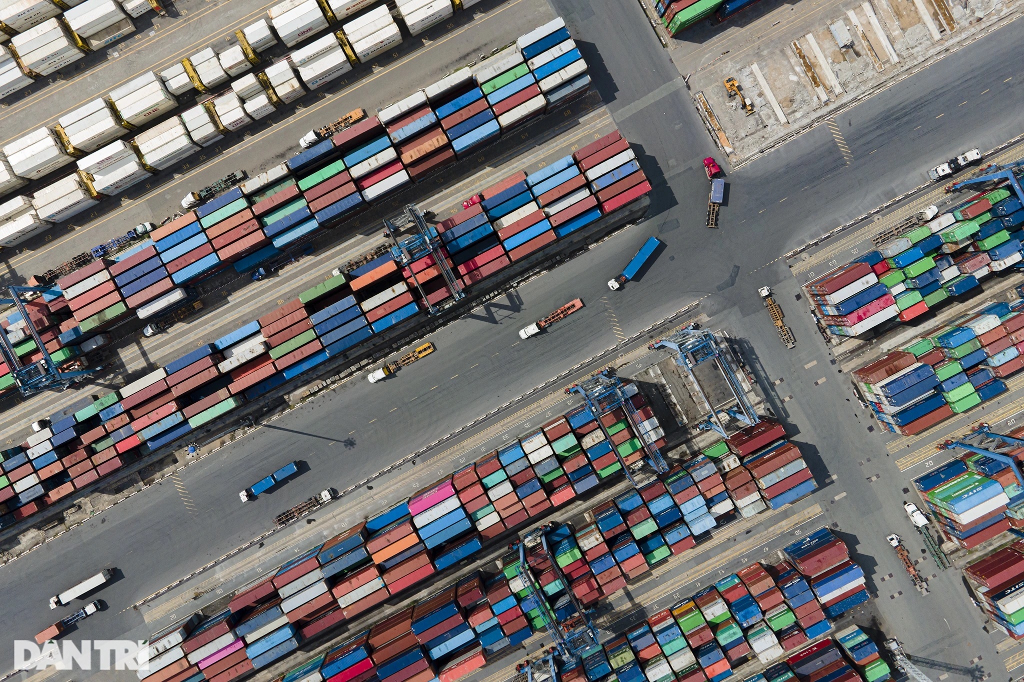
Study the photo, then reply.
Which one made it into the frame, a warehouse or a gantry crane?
gantry crane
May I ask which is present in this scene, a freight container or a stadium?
freight container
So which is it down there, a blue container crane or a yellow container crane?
blue container crane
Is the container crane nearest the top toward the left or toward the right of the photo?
right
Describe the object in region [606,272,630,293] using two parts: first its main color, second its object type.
white truck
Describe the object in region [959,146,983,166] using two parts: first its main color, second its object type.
white vehicle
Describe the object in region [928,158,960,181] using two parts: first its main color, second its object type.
white truck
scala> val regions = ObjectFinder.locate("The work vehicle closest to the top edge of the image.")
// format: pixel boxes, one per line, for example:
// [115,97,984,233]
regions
[727,78,748,117]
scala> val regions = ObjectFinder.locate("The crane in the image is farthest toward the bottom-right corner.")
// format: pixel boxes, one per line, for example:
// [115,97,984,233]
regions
[971,422,1024,491]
